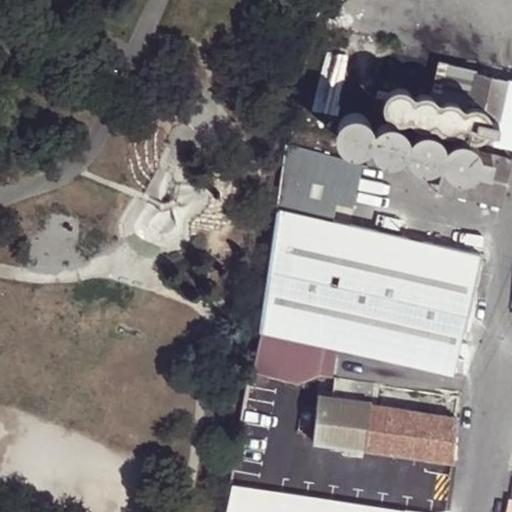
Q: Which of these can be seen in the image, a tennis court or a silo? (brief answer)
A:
silo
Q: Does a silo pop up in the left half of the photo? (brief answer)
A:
No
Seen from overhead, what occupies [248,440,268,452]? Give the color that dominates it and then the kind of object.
white vehicle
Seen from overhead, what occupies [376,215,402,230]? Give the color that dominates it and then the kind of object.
white vehicle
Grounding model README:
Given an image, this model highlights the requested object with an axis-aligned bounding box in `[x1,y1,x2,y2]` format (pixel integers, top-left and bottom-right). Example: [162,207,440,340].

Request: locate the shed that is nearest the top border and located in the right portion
[436,61,478,91]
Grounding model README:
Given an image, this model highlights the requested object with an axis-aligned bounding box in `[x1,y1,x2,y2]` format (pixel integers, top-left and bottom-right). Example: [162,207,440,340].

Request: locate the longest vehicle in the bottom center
[244,411,279,428]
